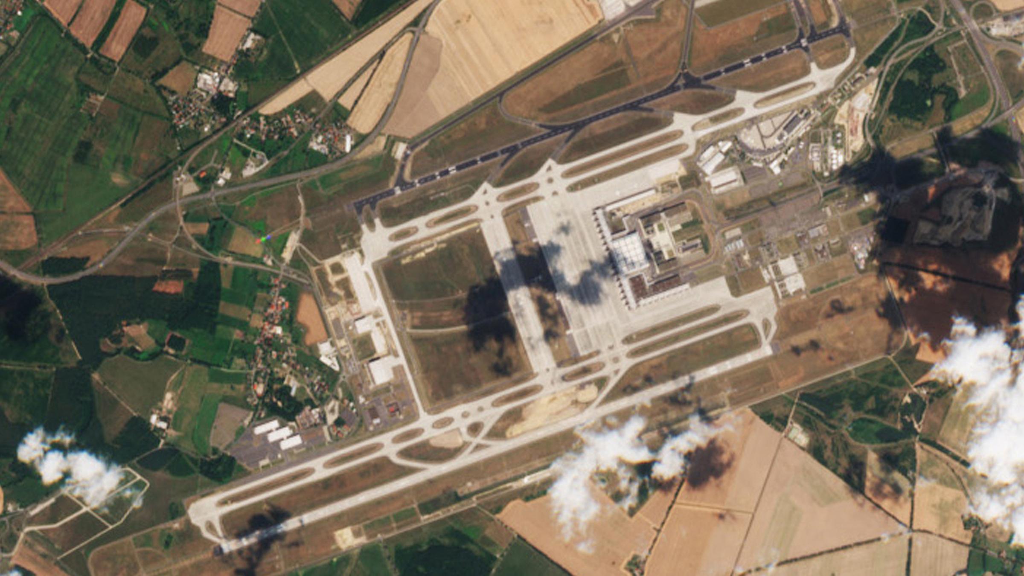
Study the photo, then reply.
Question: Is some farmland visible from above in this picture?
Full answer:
Yes, some farmland is visible.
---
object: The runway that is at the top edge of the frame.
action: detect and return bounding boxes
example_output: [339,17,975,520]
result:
[346,20,857,210]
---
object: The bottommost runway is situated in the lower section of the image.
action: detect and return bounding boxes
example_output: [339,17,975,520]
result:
[214,343,780,555]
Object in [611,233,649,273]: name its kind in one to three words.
building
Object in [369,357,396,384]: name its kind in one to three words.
hangar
